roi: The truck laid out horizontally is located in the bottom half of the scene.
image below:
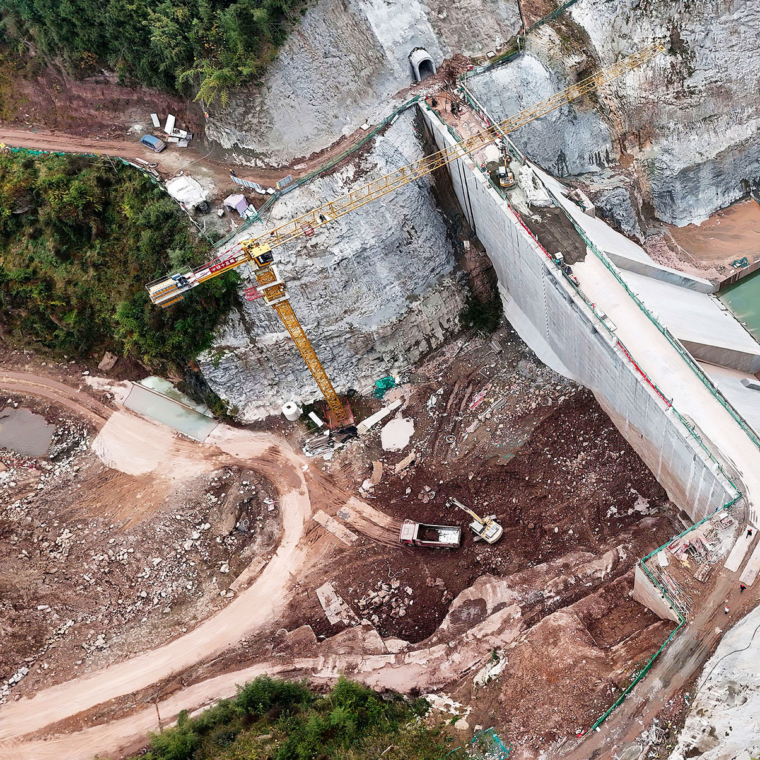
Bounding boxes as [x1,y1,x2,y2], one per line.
[396,517,460,543]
